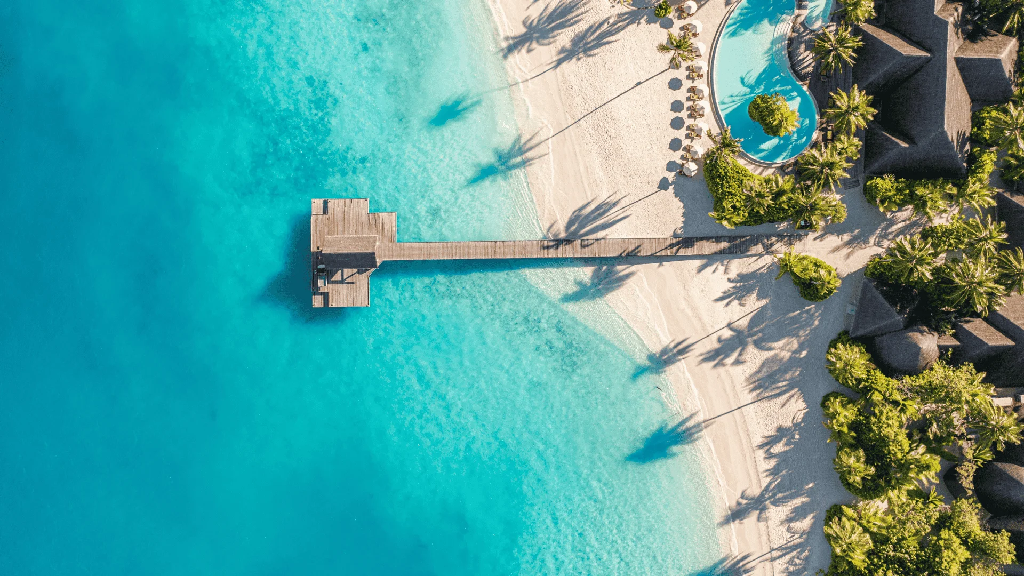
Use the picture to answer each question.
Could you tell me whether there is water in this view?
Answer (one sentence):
Yes, some water is visible.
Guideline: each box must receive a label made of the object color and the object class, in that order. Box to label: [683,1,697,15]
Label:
white umbrella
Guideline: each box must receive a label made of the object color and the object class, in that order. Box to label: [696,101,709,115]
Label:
white umbrella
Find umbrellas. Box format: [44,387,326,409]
[689,21,702,34]
[689,145,703,159]
[696,101,709,115]
[694,61,707,75]
[691,42,705,56]
[683,163,696,177]
[695,84,709,98]
[694,123,707,136]
[683,1,697,15]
